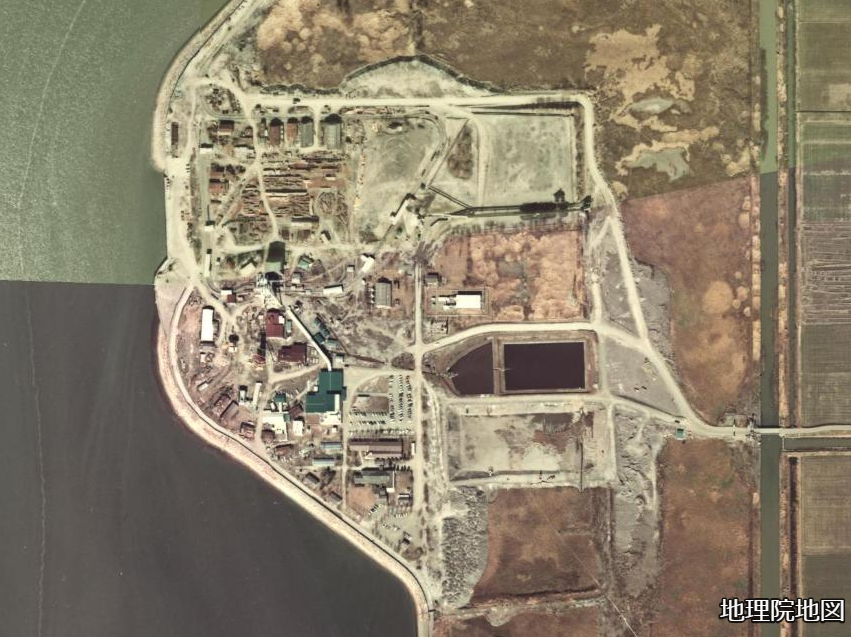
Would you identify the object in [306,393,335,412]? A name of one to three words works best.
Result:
building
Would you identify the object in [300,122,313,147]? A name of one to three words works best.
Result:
building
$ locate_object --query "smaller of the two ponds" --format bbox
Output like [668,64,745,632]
[448,343,494,394]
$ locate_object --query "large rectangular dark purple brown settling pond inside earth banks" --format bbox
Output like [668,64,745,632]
[504,343,585,390]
